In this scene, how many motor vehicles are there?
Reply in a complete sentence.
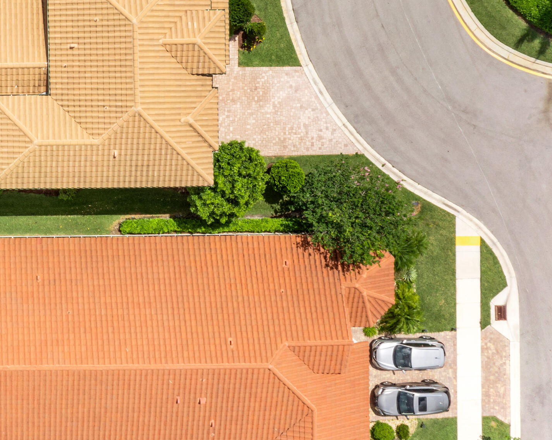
The number of motor vehicles here is 2.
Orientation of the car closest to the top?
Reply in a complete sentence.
What the image shows is the car closest to the top lying horizontally.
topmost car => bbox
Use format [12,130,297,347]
[371,335,450,373]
